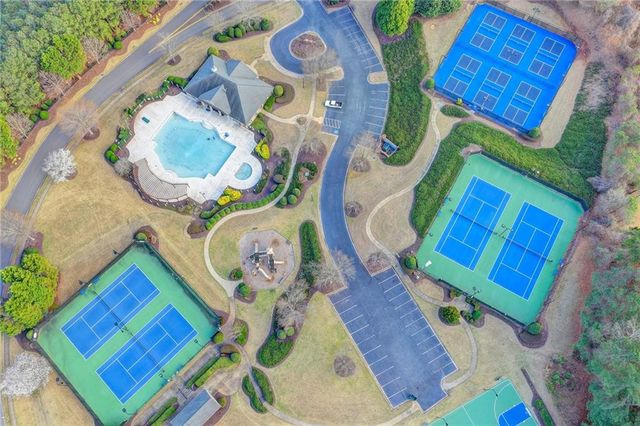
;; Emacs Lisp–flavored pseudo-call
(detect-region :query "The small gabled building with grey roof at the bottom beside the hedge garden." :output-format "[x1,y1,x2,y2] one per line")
[165,389,220,426]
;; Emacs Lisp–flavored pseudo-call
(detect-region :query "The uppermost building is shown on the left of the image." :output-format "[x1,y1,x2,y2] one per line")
[184,55,274,127]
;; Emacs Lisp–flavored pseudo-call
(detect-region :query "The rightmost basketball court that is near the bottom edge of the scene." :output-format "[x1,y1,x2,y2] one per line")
[422,377,538,426]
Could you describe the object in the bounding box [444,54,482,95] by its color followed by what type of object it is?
blue sports court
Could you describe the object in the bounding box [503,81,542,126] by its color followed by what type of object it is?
blue sports court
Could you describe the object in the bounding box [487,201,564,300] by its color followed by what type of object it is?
blue tennis court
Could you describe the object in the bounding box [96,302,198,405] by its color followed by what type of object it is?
blue tennis court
